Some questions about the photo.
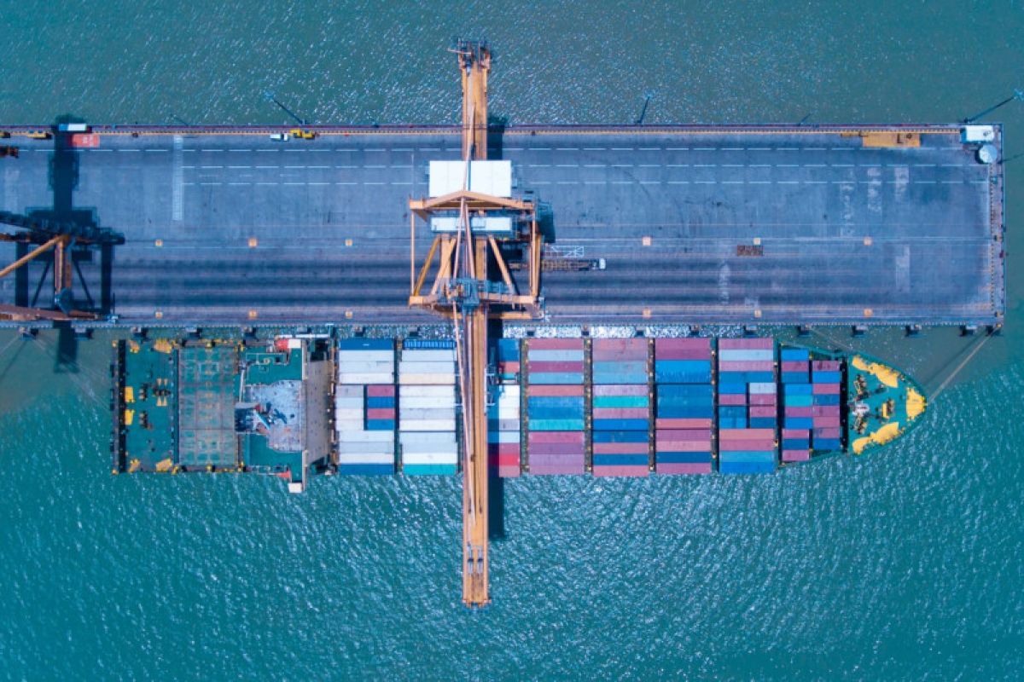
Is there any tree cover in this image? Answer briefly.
No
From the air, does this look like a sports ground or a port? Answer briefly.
port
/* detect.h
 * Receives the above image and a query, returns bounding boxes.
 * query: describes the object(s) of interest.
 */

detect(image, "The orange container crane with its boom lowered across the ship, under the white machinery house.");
[410,31,556,610]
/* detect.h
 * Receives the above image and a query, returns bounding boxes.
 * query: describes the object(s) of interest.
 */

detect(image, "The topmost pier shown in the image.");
[0,124,1005,333]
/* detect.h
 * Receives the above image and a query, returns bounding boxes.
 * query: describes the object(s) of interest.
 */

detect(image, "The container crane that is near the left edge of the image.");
[0,201,124,321]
